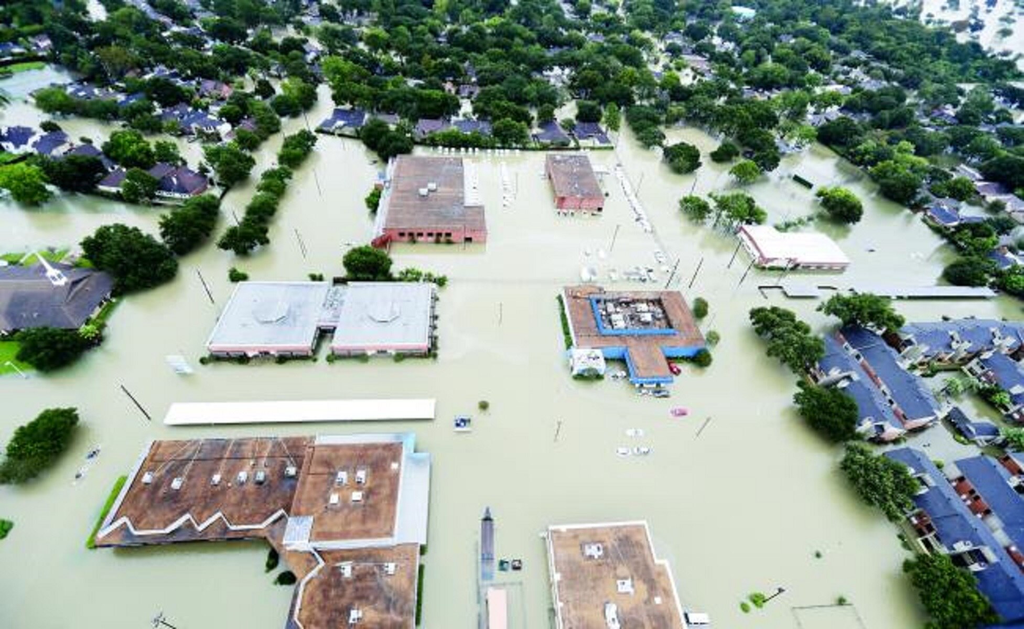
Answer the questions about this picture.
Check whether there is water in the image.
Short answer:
Yes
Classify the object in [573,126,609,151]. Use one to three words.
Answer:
house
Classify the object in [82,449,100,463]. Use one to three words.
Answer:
car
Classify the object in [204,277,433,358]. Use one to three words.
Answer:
building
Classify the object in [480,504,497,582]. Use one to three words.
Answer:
trailer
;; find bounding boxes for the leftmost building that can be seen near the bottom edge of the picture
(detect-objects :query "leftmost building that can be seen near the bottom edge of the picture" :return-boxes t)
[86,429,431,629]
